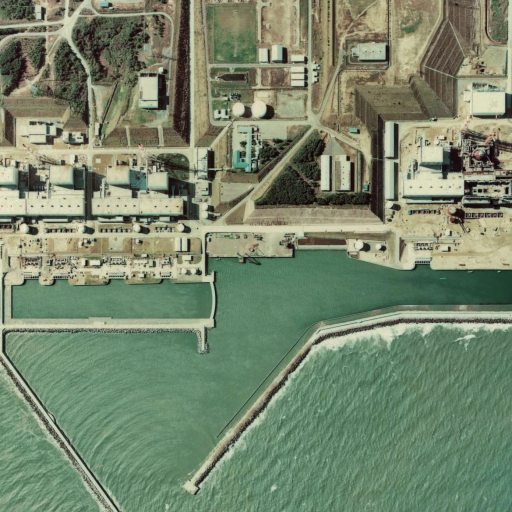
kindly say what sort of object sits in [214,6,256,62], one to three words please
sports field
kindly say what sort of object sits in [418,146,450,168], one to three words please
building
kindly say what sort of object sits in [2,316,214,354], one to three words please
pier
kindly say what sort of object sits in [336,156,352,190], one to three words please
building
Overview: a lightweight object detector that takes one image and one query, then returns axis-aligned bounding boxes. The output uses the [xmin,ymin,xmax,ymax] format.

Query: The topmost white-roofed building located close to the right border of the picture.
[463,84,505,118]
